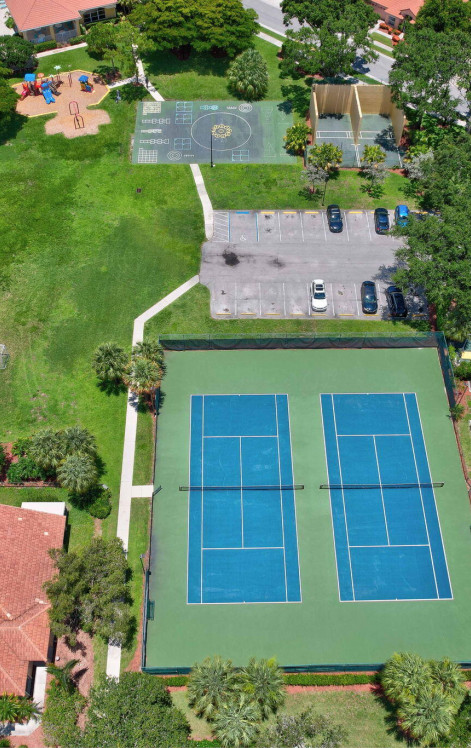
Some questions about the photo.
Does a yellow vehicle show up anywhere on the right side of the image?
No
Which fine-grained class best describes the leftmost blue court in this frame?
tennis court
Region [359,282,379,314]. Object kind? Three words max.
car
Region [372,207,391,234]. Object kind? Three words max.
car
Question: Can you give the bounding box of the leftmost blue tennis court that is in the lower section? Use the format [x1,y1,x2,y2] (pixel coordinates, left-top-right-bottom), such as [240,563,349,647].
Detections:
[180,394,304,604]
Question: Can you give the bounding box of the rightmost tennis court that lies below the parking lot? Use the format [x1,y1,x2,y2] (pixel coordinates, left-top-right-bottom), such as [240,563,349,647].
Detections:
[320,392,453,602]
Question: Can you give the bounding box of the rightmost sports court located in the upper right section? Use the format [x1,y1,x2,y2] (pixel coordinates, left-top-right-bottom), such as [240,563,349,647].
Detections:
[310,84,405,167]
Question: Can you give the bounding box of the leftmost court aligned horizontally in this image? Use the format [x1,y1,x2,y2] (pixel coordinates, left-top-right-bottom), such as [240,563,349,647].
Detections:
[132,102,297,163]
